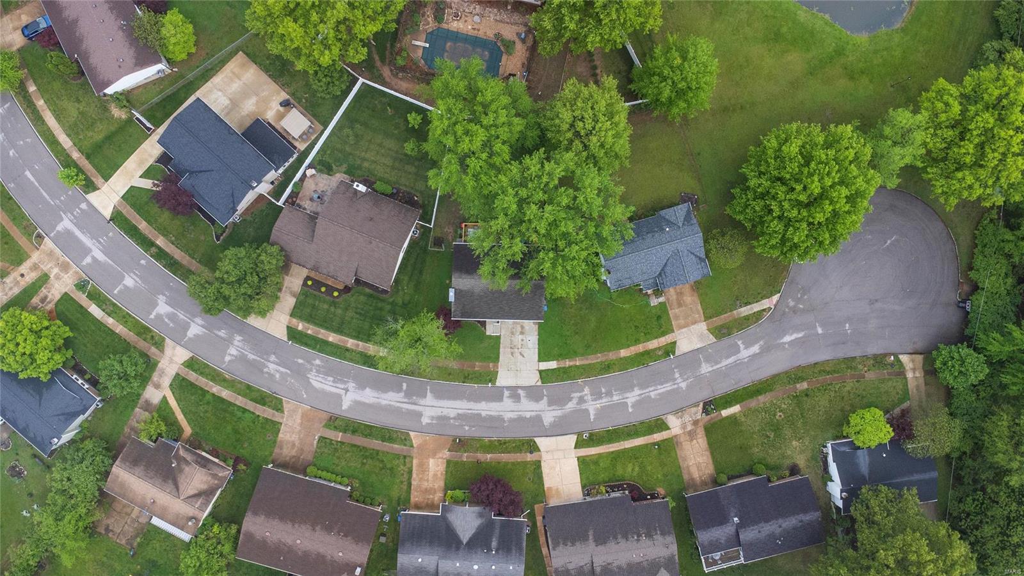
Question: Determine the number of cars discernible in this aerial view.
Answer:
one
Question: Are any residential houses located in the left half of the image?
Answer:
Yes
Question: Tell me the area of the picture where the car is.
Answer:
top left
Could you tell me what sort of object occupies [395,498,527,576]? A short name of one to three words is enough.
house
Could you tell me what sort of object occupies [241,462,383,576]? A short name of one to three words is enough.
house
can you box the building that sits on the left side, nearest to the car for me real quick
[40,0,169,97]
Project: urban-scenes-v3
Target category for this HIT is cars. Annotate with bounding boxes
[18,14,50,36]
